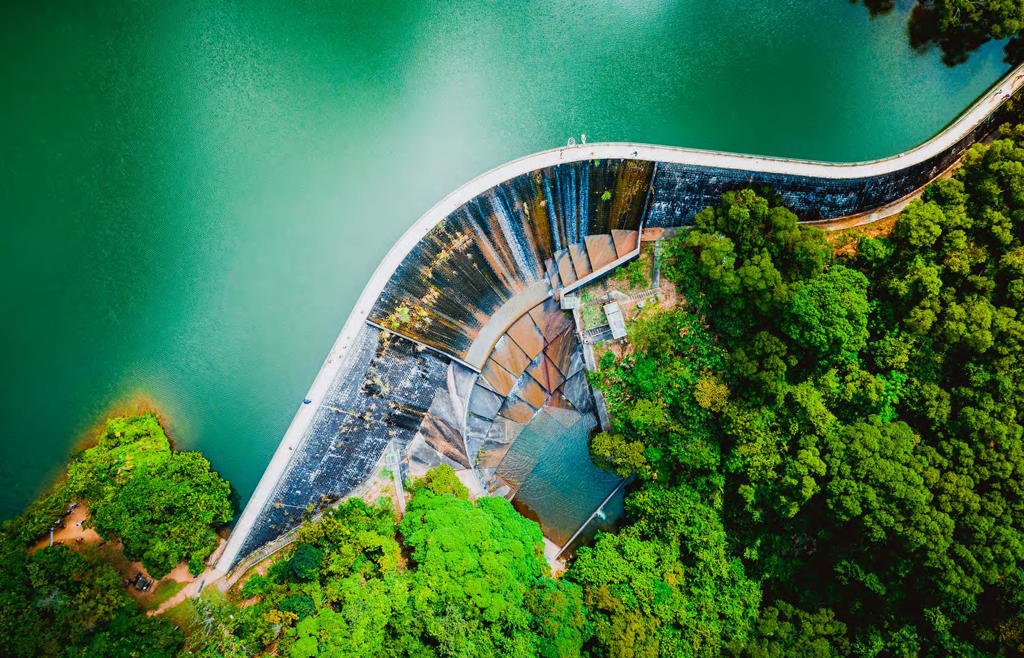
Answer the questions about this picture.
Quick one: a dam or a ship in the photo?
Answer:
dam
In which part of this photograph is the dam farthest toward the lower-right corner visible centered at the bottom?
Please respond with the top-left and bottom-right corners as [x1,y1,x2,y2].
[555,475,628,560]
